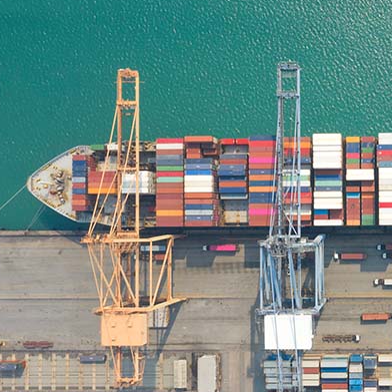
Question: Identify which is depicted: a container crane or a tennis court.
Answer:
container crane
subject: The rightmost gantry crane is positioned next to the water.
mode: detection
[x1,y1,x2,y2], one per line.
[253,62,332,392]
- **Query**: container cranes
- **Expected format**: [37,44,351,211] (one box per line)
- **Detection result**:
[80,67,196,388]
[253,62,332,392]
